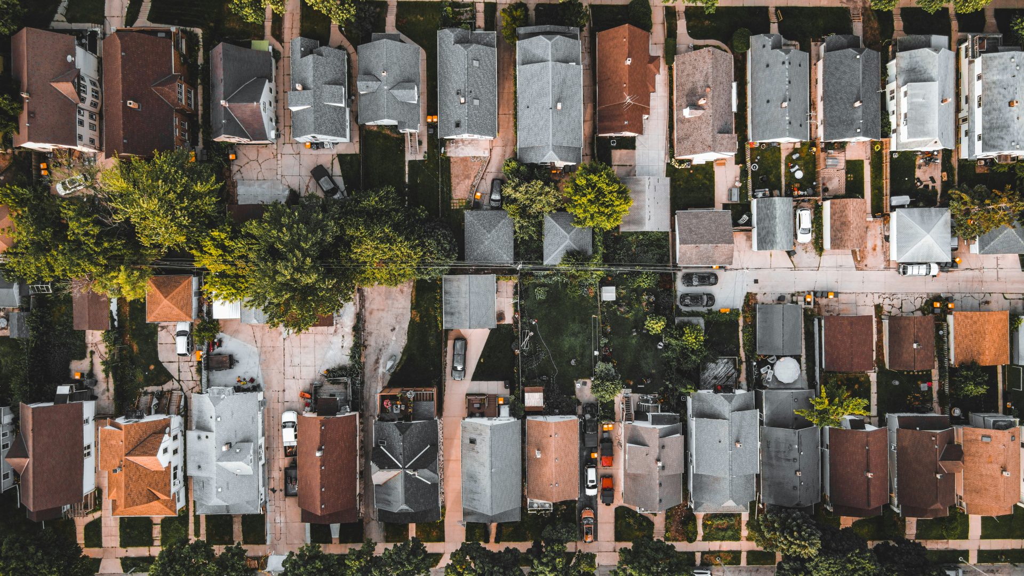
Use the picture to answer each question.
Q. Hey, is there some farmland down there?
No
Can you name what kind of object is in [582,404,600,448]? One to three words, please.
vehicle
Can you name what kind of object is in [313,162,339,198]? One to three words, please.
car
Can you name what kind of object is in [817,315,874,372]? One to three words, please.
building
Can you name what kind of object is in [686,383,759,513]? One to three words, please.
house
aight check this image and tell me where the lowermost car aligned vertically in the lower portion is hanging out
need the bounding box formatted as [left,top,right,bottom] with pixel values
[579,508,596,546]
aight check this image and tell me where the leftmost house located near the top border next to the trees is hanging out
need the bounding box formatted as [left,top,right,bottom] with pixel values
[11,26,101,151]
